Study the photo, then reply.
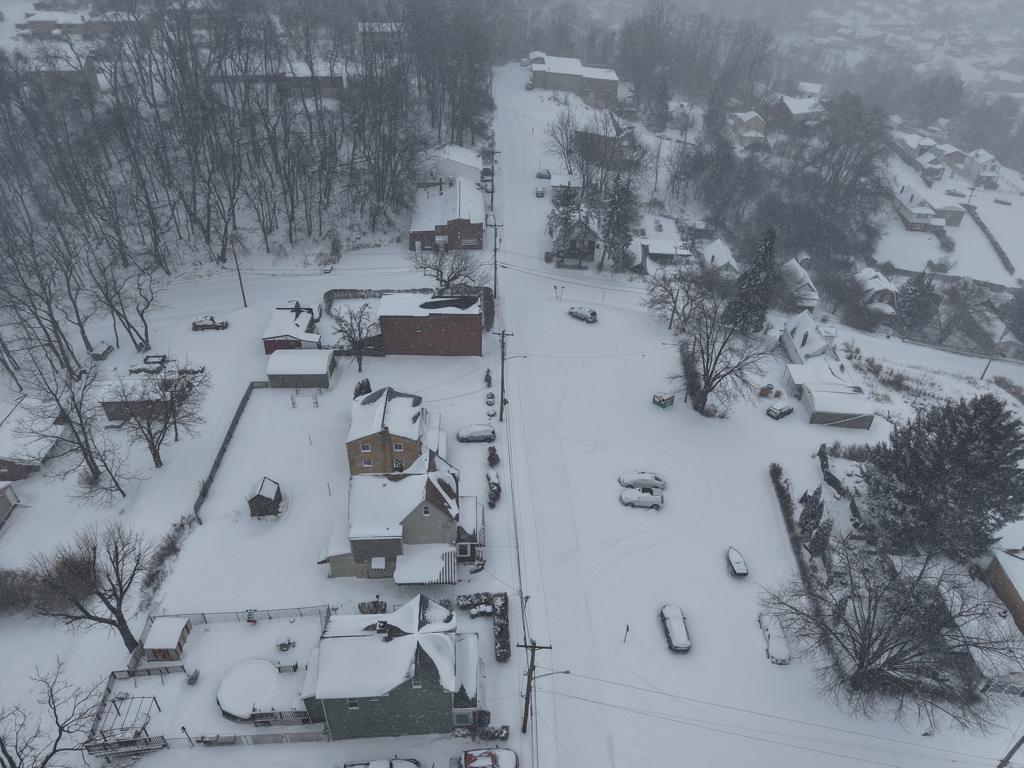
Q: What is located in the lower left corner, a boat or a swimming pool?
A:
swimming pool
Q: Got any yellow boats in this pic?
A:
No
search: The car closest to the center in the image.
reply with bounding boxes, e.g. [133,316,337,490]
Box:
[458,425,496,445]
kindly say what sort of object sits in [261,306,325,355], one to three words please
building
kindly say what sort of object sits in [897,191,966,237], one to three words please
house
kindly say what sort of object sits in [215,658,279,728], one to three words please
swimming pool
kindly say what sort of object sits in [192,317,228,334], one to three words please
car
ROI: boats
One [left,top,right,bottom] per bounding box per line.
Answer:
[726,538,751,576]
